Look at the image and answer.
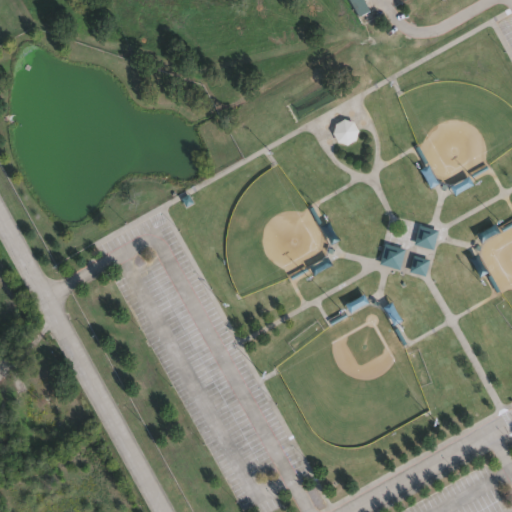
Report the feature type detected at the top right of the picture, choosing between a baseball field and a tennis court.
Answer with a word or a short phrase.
baseball field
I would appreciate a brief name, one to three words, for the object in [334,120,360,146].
gazebo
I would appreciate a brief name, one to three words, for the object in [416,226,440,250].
building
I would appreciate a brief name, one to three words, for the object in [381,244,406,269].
building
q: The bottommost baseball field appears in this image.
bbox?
[279,303,428,446]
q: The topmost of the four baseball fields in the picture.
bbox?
[401,81,512,186]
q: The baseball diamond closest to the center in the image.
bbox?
[227,166,328,298]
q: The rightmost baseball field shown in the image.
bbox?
[481,226,512,308]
